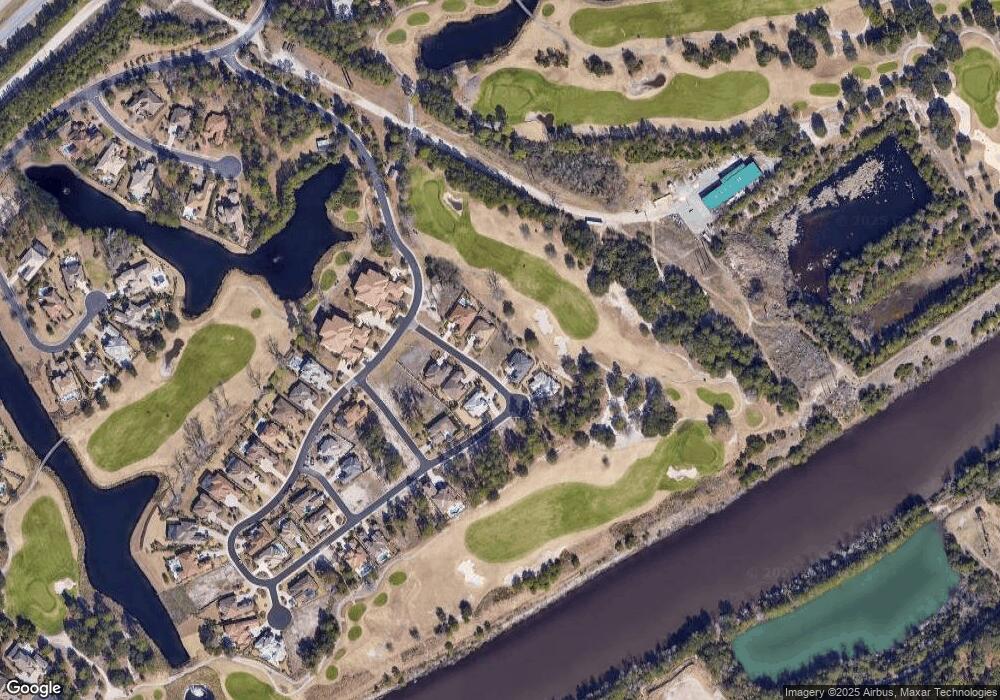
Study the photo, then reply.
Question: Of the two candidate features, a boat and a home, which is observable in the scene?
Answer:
home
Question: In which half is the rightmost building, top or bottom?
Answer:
top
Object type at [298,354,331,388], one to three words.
house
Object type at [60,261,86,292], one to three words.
house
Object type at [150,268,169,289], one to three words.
swimming pool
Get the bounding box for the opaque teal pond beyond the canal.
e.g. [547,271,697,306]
[732,519,959,682]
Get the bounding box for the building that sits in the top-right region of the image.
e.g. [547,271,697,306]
[702,161,763,211]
